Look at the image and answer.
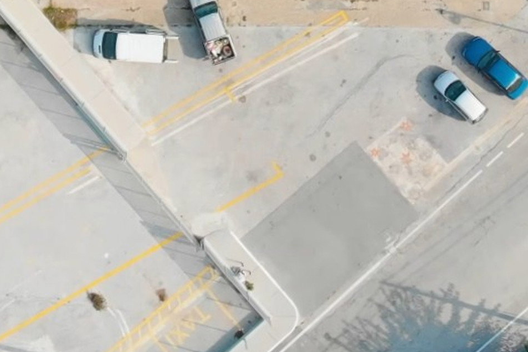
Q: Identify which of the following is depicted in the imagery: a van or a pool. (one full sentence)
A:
This aerial view contains a van.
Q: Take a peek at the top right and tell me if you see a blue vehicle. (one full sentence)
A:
Yes, the scene does show a blue vehicle at the top right.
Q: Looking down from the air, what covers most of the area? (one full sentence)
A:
The scene is dominated by paved ground.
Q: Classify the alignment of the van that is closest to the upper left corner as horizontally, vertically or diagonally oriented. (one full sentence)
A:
Seen from above, the van that is closest to the upper left corner lies horizontally.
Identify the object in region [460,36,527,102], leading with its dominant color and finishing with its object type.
blue car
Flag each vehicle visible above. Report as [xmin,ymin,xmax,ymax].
[460,36,527,102]
[93,25,180,63]
[190,0,237,67]
[432,67,489,124]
